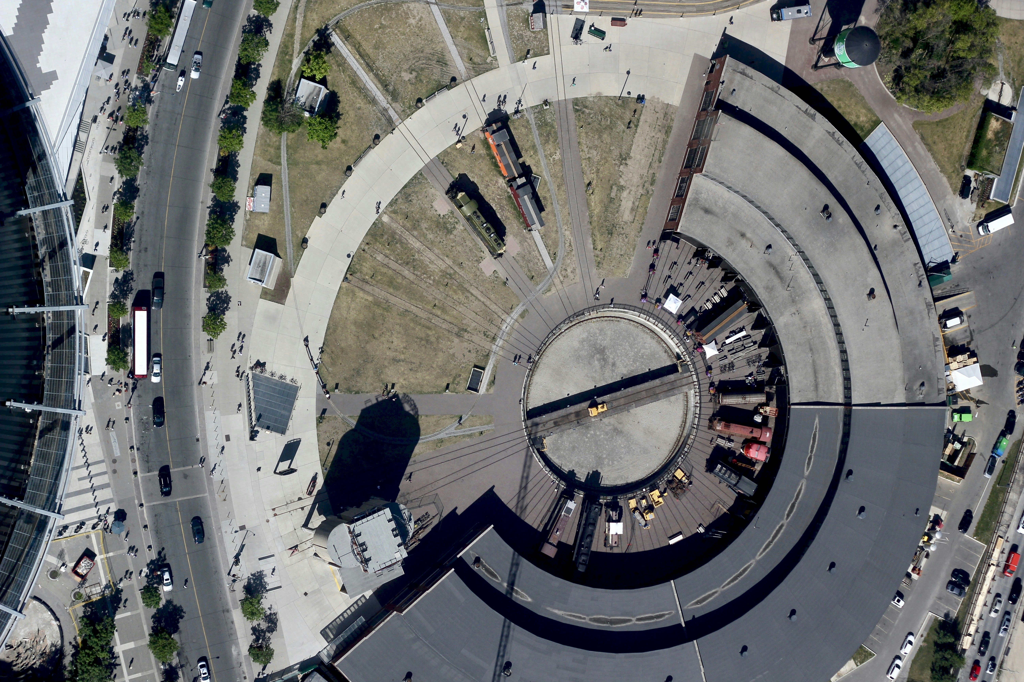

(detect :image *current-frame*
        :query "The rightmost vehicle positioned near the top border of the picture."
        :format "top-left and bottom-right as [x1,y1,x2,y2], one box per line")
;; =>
[767,5,811,23]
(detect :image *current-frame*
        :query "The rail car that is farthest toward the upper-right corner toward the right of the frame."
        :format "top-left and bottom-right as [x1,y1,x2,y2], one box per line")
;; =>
[680,299,748,352]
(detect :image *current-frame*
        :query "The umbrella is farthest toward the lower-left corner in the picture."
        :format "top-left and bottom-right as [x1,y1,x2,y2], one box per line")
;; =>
[111,520,125,536]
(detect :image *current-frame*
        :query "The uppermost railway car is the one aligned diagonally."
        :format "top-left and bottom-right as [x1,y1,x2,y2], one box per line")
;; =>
[446,186,507,259]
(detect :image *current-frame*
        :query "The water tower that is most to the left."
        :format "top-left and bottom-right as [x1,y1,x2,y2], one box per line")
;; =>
[809,26,882,71]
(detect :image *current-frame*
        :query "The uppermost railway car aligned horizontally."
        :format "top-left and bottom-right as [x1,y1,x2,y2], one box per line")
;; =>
[704,391,766,406]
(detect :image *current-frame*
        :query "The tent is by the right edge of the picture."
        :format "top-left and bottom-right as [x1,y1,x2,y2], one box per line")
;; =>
[949,363,983,392]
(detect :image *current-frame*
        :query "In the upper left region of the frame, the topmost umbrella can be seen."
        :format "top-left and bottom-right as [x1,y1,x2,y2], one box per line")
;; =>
[91,56,114,80]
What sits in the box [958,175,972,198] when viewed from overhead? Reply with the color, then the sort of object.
black car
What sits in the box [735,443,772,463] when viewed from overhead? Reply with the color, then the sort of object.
red rail car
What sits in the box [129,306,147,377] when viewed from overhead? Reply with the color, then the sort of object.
white vehicle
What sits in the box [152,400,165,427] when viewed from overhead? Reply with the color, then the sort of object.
black vehicle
